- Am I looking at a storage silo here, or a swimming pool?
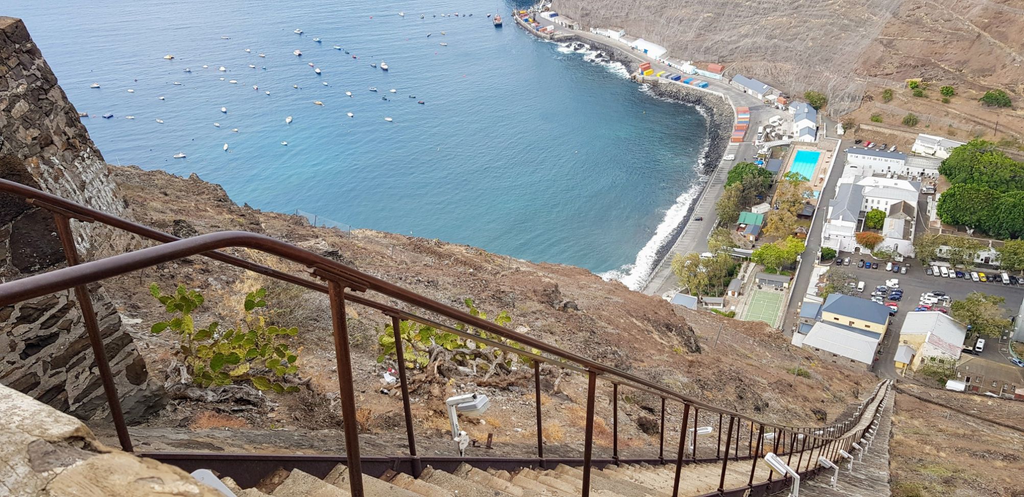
swimming pool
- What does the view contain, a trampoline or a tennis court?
tennis court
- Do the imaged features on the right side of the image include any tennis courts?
Yes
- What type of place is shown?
port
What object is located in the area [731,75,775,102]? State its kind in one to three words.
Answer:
building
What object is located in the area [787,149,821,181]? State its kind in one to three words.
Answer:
swimming pool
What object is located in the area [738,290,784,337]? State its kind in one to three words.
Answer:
tennis court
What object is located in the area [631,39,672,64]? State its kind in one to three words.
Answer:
shed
